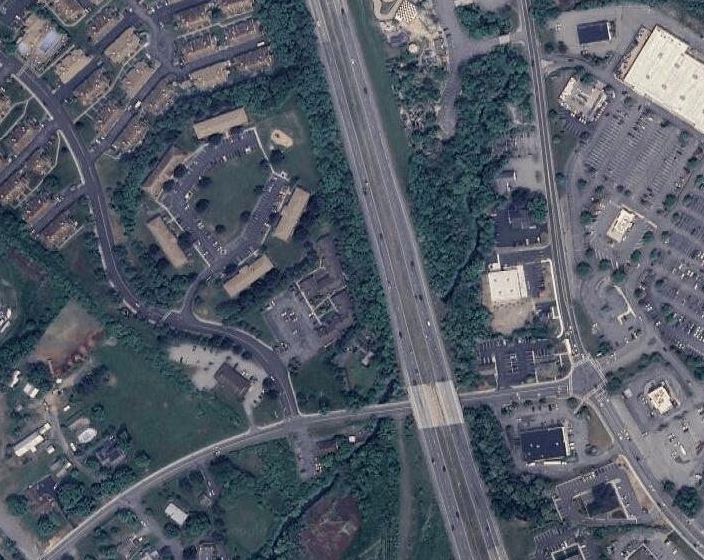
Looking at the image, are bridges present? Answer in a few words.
Yes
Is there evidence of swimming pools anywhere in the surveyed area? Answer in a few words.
Yes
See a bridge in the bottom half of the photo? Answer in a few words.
Yes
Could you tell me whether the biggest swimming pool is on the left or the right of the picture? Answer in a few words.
left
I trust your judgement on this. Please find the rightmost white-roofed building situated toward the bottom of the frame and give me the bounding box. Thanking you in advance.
[647,383,677,413]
